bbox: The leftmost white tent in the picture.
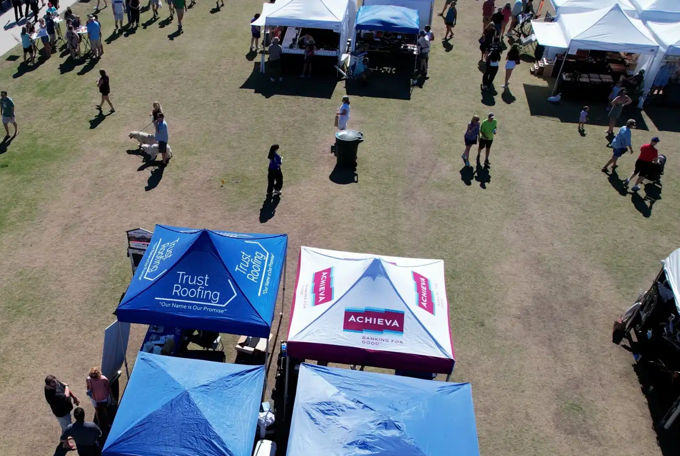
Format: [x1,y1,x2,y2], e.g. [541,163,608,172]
[250,0,348,51]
